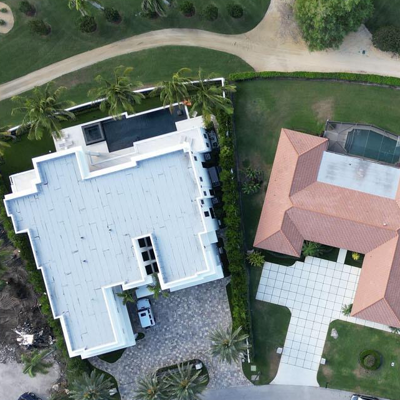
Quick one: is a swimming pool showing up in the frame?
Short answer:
Yes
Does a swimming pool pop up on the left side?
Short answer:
Yes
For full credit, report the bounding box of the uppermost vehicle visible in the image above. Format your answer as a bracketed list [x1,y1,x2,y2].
[137,297,156,329]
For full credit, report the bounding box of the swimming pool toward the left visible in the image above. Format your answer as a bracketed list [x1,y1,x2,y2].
[79,105,187,152]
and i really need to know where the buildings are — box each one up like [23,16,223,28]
[252,128,400,328]
[4,127,230,358]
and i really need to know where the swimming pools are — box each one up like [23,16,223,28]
[79,105,187,152]
[343,127,400,165]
